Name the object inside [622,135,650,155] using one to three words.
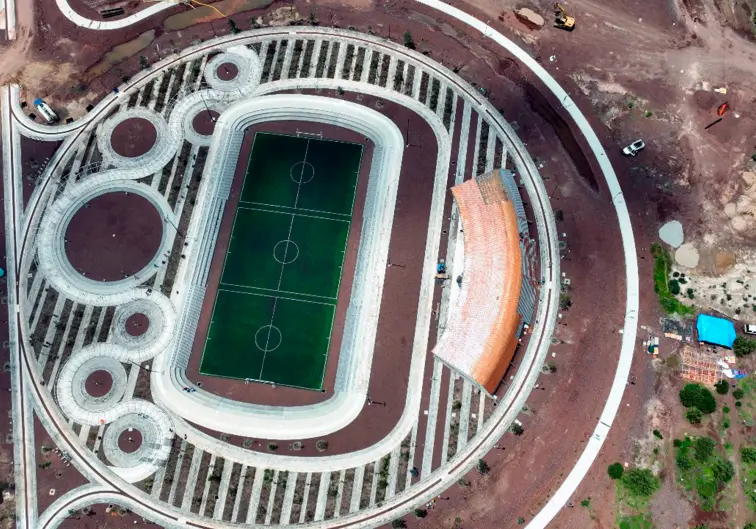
vehicle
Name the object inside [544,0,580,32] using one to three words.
work vehicle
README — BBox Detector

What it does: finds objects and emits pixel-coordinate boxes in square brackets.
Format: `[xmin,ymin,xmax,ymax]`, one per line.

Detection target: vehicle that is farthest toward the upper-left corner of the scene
[29,92,58,122]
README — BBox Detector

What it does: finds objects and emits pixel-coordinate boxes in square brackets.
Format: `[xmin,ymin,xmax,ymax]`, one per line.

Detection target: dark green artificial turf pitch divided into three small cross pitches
[196,131,365,392]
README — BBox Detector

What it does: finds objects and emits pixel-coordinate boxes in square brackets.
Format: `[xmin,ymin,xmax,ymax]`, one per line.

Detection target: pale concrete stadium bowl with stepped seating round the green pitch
[151,94,404,445]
